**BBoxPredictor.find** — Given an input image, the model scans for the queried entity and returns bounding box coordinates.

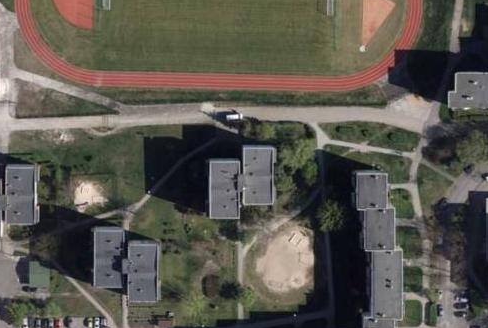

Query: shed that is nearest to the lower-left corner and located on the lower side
[30,261,51,288]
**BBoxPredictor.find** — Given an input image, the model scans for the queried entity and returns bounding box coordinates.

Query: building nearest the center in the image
[210,146,279,220]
